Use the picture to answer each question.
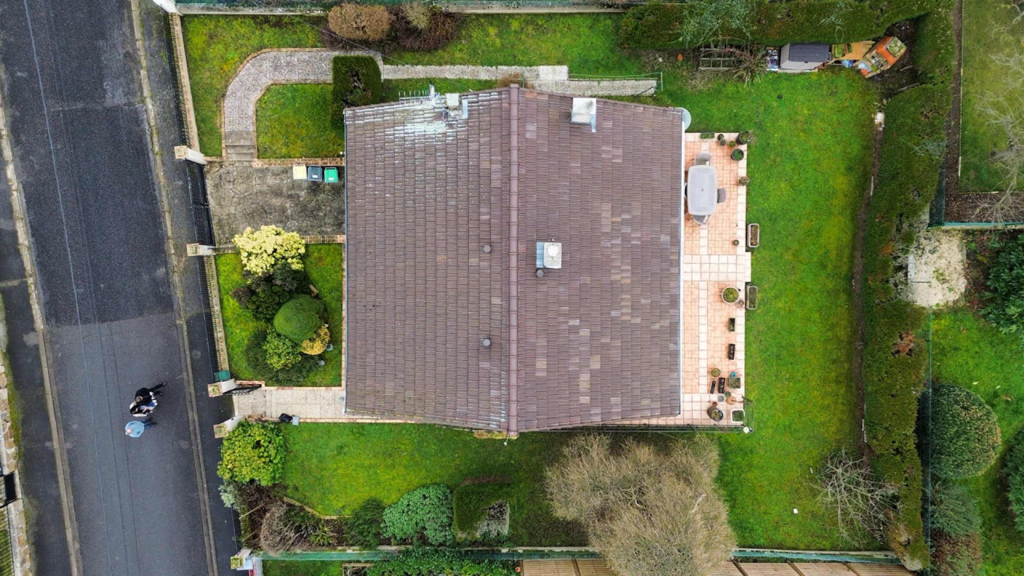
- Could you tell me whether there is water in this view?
No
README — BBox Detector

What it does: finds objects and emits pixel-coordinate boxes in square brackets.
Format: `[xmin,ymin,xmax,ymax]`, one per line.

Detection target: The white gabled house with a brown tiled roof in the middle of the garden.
[342,82,687,437]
